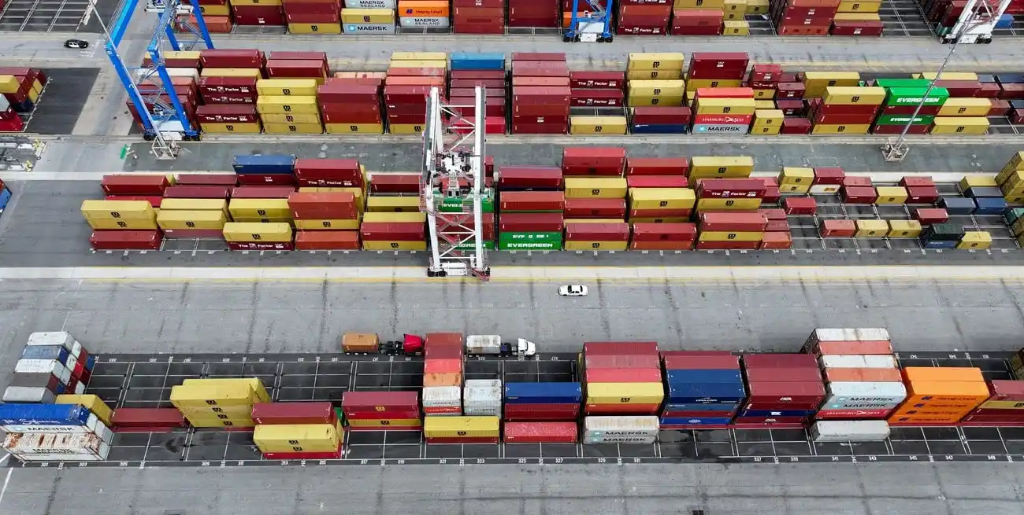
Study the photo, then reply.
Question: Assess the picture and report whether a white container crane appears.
Yes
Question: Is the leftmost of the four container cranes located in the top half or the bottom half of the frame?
top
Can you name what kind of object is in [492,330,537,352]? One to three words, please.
truck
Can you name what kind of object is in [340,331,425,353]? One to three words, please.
truck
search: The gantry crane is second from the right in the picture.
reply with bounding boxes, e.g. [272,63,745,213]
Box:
[565,0,614,41]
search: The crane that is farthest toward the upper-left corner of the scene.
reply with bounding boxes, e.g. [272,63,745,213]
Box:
[94,0,211,140]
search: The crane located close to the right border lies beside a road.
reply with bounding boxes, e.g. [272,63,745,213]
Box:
[944,0,1014,42]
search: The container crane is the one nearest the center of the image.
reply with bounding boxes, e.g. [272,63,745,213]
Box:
[416,82,492,281]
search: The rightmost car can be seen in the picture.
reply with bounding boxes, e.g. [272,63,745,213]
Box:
[558,281,588,293]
